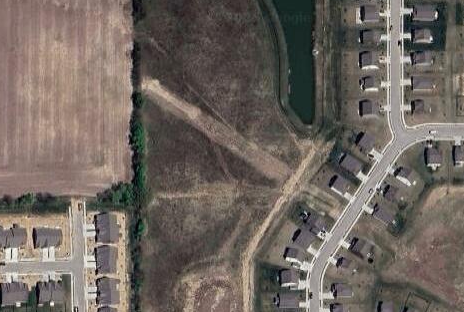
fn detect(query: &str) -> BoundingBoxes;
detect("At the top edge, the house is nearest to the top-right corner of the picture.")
[414,5,440,22]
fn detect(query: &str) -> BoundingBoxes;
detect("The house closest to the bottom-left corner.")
[3,281,30,311]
